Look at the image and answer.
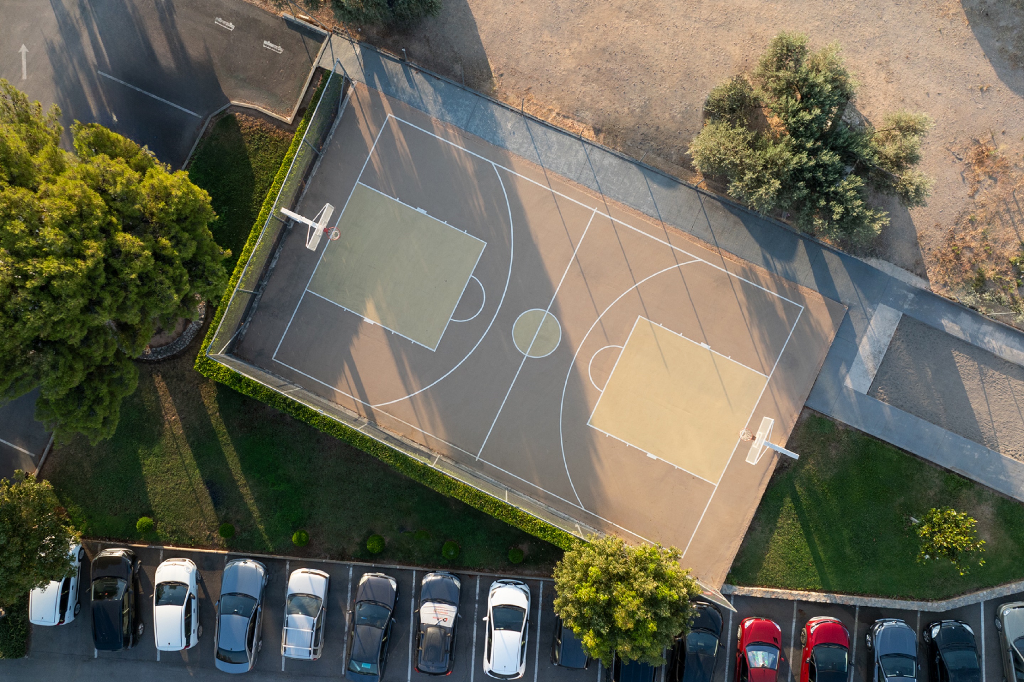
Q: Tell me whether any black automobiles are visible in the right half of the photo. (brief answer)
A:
Yes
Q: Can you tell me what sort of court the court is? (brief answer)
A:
basketball court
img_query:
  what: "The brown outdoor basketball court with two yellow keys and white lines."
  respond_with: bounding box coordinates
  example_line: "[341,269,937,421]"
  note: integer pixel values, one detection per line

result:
[237,83,847,589]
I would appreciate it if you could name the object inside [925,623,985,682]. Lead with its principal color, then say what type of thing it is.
black car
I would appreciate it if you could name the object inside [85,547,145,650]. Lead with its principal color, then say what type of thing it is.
black car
